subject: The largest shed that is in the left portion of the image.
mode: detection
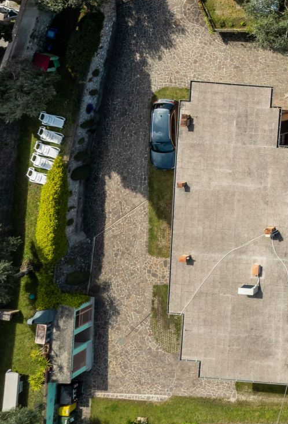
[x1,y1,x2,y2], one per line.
[50,290,103,387]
